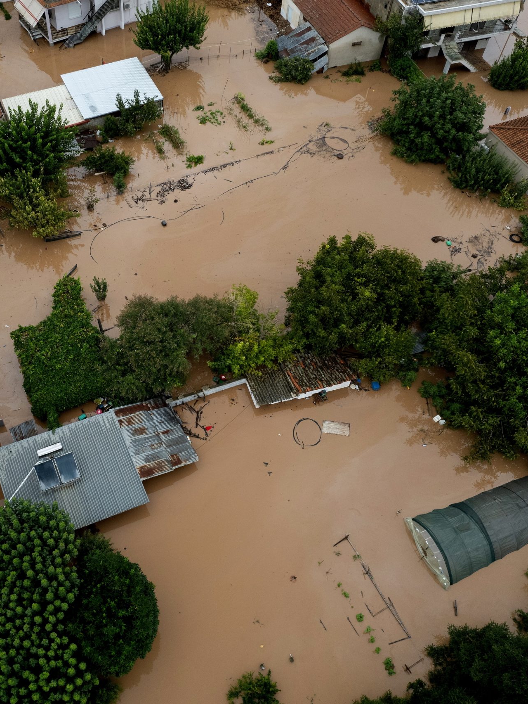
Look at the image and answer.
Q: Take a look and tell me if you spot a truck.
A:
No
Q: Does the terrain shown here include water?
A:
Yes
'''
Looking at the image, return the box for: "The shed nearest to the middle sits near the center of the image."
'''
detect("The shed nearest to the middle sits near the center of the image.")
[244,350,354,410]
